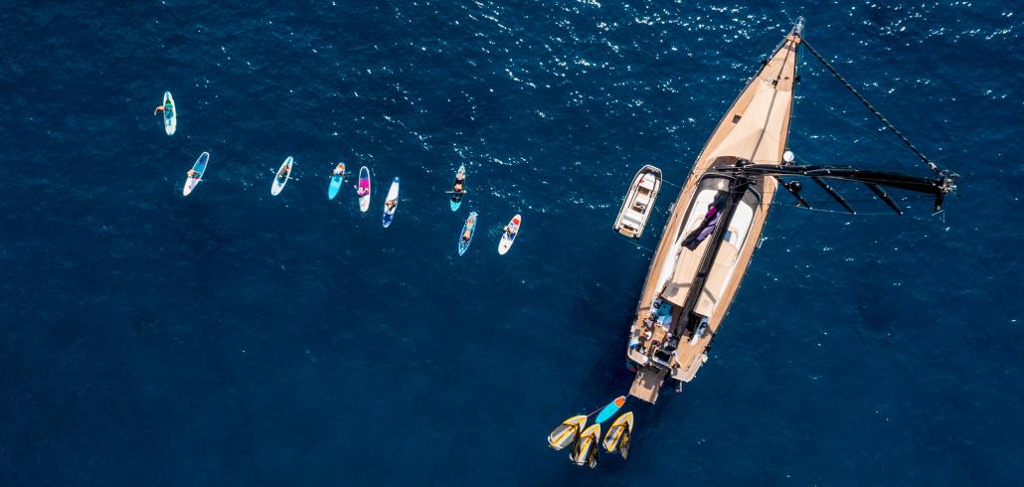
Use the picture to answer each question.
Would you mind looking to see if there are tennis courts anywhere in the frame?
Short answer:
No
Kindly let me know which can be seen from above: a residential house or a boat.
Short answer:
boat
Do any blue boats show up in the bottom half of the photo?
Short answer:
No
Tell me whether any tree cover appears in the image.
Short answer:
No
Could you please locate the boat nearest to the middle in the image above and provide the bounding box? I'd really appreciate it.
[614,164,662,240]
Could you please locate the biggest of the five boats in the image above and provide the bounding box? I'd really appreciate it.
[627,15,977,403]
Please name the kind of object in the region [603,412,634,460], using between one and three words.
boat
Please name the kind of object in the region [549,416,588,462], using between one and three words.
boat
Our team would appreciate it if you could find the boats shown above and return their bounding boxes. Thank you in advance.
[549,416,588,462]
[572,424,601,472]
[614,164,662,240]
[627,15,977,403]
[603,412,634,460]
